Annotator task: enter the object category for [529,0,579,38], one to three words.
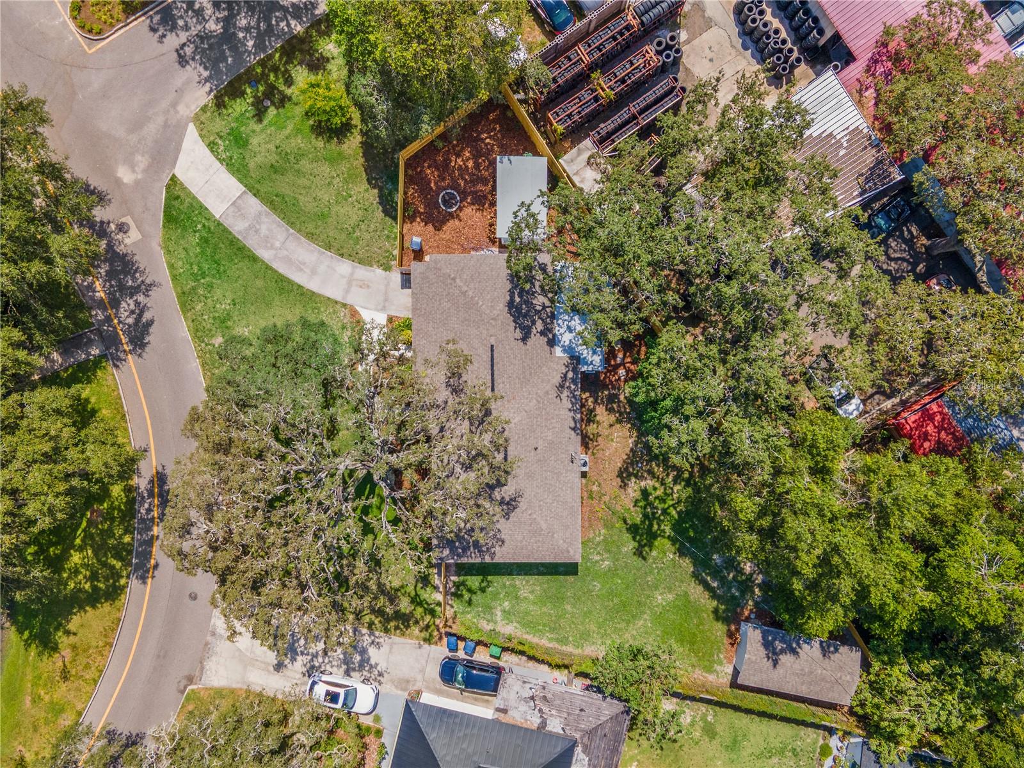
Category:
car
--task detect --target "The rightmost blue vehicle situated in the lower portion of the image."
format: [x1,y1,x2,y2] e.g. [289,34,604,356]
[438,651,507,693]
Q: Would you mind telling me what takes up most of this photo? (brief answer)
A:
trees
